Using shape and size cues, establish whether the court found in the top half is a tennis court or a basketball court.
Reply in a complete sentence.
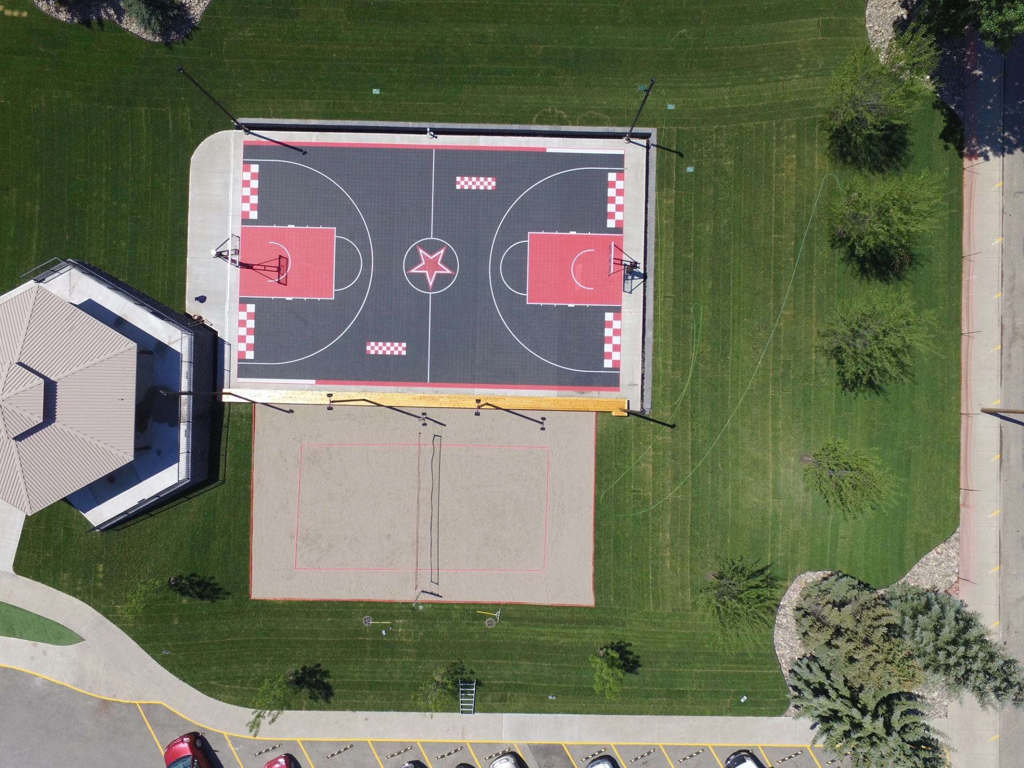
What you see as the court found in the top half is a basketball court.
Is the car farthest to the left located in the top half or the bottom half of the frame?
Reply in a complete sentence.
You can find the car farthest to the left in the bottom half.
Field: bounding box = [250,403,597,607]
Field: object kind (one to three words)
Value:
sports court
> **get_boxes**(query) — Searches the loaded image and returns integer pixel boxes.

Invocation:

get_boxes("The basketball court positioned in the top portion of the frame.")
[237,140,625,392]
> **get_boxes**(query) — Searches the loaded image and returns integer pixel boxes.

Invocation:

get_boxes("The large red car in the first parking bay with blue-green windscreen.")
[164,733,206,768]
